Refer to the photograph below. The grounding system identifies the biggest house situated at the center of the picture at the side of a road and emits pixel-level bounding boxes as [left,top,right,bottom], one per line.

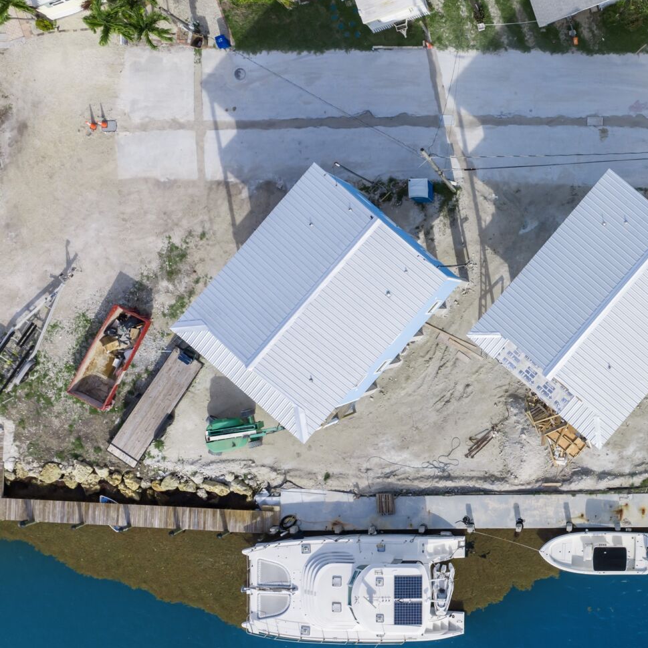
[172,162,489,442]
